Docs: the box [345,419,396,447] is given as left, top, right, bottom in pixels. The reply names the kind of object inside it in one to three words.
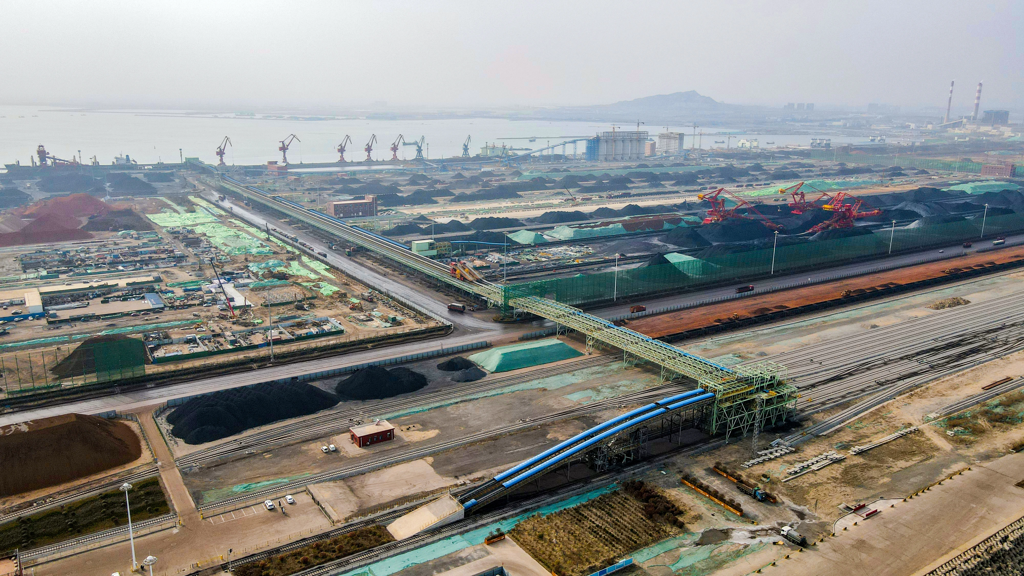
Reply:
shed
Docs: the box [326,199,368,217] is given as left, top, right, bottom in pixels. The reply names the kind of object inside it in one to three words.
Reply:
building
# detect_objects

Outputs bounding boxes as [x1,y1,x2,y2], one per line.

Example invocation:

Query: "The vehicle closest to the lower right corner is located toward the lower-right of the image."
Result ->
[774,523,813,546]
